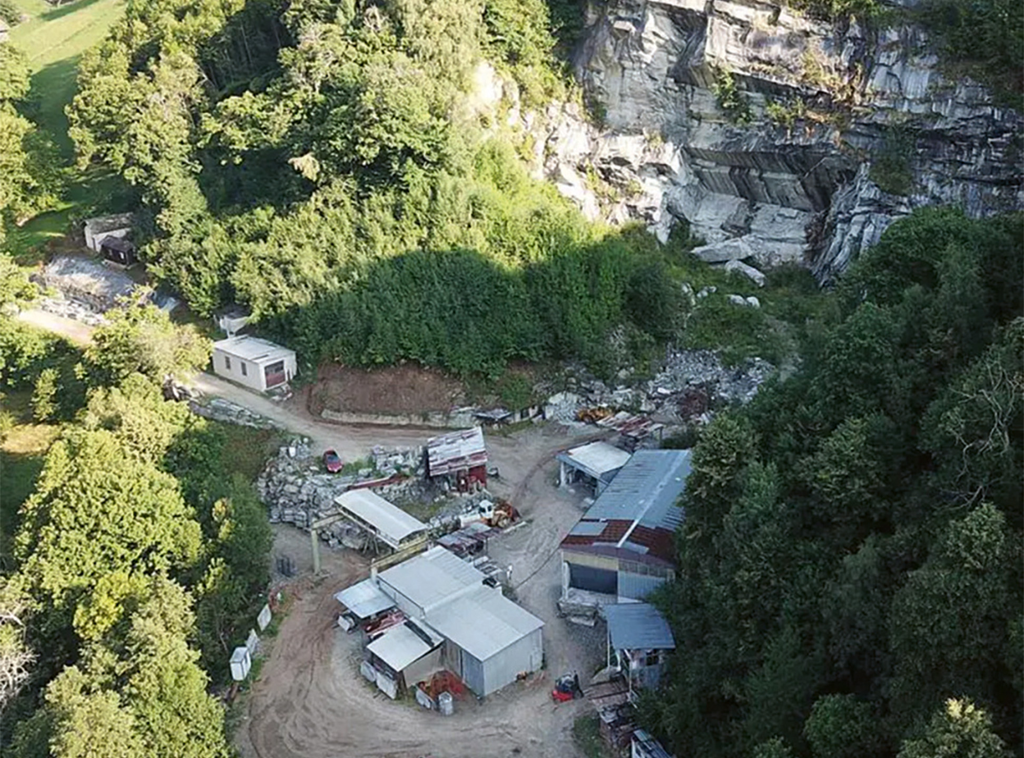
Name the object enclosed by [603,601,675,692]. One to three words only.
shed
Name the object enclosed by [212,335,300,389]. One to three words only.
building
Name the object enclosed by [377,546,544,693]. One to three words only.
building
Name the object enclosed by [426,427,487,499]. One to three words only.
shed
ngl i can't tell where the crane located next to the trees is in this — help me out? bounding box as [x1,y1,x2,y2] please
[309,490,444,614]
